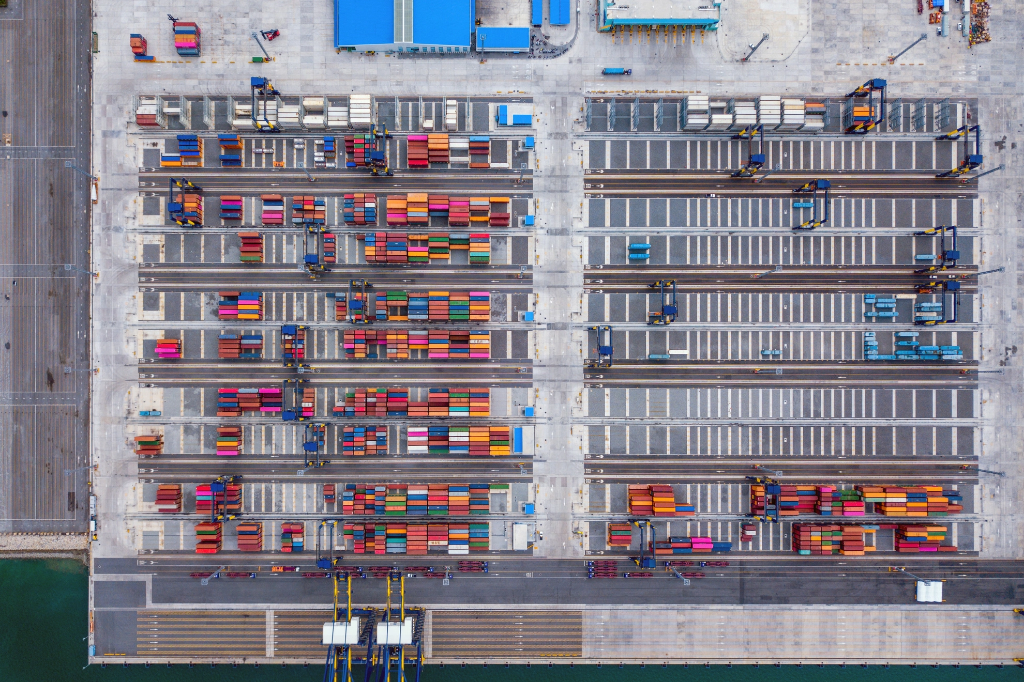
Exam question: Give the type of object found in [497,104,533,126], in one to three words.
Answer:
building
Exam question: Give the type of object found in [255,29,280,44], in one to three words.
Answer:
work vehicle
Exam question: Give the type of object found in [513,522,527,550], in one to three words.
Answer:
building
